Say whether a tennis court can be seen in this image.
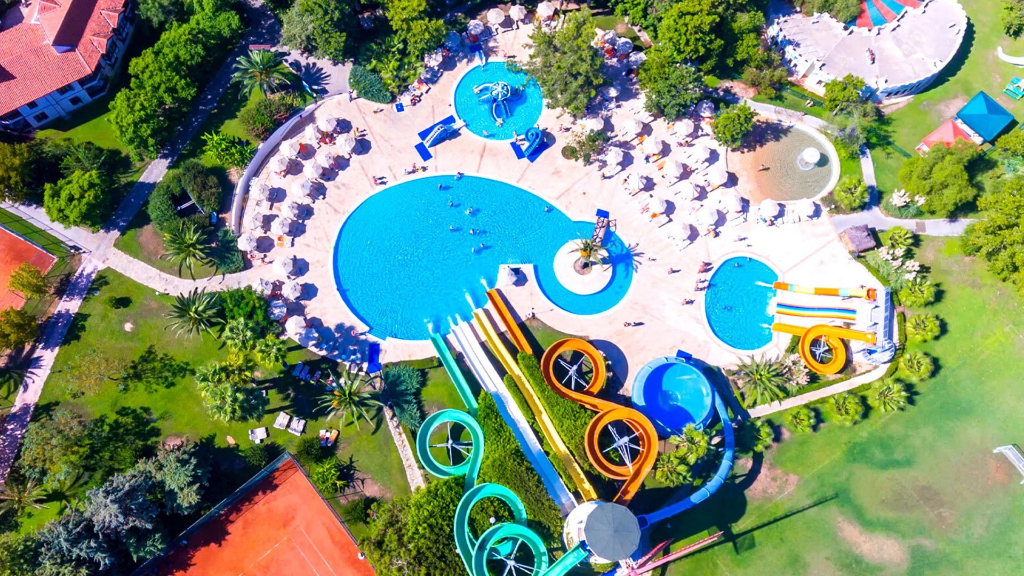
Yes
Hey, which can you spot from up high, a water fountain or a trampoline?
water fountain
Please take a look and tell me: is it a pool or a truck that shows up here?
pool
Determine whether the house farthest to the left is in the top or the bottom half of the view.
top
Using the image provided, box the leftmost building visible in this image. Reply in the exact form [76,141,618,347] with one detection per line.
[0,0,142,135]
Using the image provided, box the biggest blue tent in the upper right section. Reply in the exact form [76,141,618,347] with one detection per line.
[951,91,1012,149]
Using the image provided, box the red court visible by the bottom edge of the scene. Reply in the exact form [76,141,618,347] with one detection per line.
[137,460,374,576]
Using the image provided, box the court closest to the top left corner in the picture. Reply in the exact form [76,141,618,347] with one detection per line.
[0,224,56,314]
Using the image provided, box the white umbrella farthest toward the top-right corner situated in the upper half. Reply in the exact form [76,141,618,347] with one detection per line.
[795,199,818,222]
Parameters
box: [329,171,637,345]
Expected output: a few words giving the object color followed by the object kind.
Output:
blue swimming pool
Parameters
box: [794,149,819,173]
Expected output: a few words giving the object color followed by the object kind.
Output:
white fountain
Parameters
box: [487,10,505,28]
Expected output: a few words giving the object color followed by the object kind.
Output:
white umbrella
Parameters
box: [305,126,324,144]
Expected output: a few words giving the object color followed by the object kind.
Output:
white umbrella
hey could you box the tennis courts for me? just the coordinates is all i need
[137,460,374,576]
[0,224,56,314]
